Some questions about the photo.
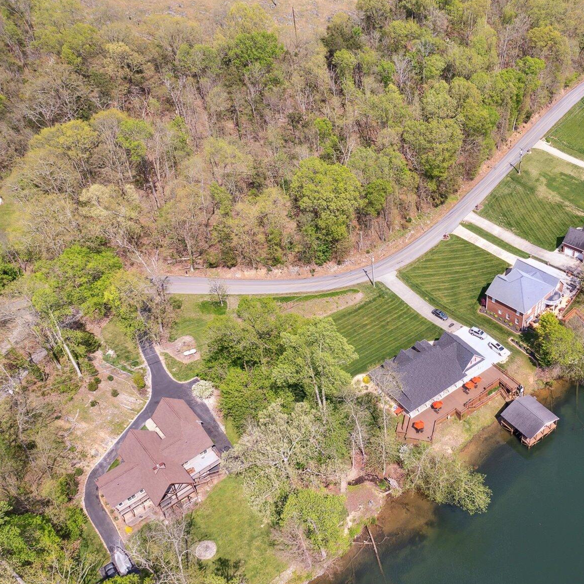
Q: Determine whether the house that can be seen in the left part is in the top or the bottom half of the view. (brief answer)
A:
bottom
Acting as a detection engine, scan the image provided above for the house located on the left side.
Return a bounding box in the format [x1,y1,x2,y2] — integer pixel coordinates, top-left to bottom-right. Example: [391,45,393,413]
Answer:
[94,396,234,538]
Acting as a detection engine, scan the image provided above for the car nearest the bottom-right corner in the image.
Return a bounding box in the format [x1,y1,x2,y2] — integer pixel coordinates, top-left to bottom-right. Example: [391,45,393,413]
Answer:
[487,341,510,360]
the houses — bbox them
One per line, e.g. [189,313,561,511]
[361,322,527,455]
[483,259,580,340]
[560,217,584,260]
[94,396,234,538]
